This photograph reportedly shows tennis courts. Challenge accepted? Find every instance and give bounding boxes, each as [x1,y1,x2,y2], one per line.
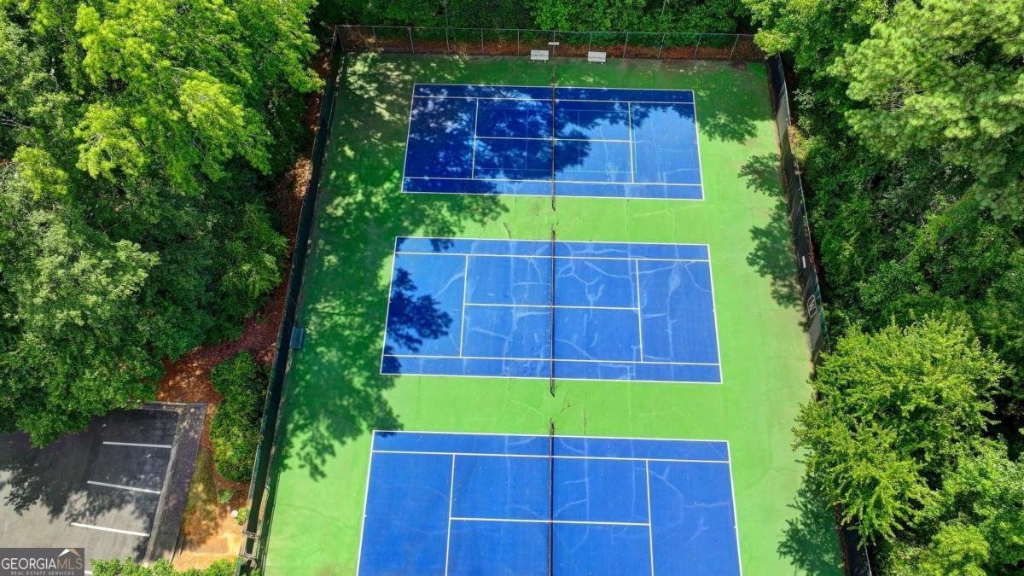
[402,84,703,199]
[358,431,741,576]
[381,237,722,383]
